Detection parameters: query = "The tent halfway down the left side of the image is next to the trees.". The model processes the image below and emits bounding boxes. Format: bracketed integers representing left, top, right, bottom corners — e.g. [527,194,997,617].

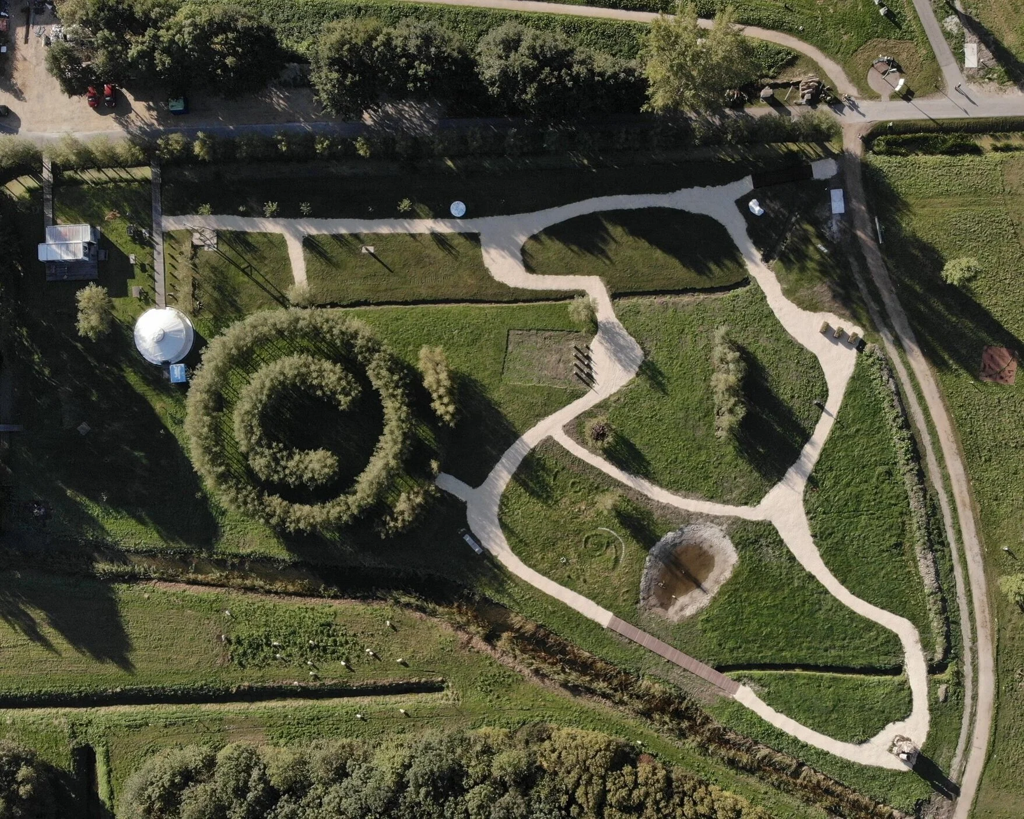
[133,306,193,373]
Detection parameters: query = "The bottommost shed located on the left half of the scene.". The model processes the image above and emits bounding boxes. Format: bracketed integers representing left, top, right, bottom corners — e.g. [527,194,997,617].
[166,364,185,383]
